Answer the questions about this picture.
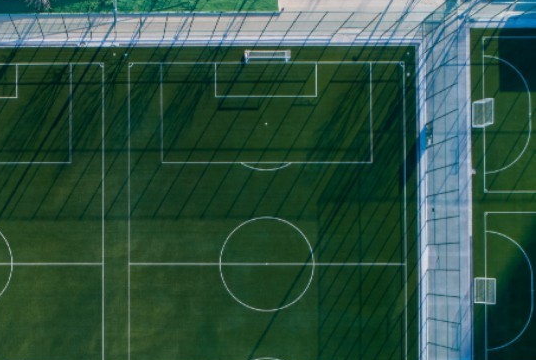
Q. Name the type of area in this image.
sports ground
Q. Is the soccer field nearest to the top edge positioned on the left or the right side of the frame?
right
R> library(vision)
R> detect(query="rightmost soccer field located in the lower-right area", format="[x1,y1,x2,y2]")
[472,202,536,360]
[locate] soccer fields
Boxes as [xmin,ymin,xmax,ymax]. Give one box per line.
[472,202,536,360]
[471,26,536,202]
[116,46,418,360]
[0,48,116,360]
